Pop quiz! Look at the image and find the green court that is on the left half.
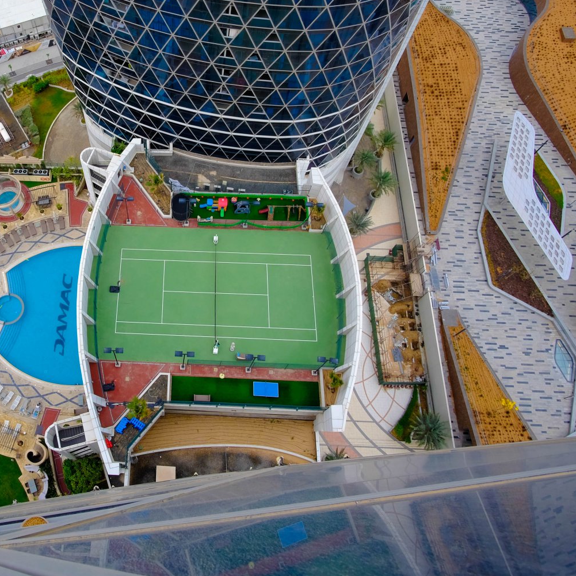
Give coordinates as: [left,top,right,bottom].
[87,227,345,365]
